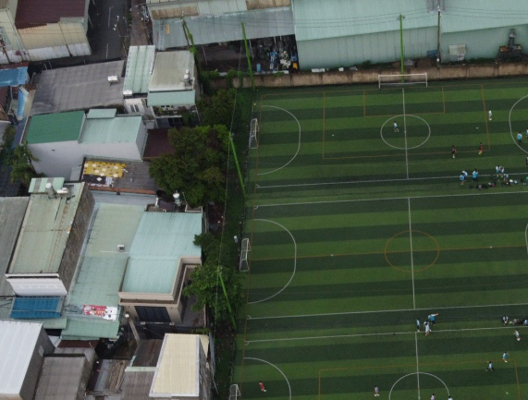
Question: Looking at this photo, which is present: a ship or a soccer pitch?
soccer pitch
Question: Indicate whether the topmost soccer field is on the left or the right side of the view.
right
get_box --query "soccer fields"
[229,316,528,400]
[234,183,528,329]
[245,75,528,196]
